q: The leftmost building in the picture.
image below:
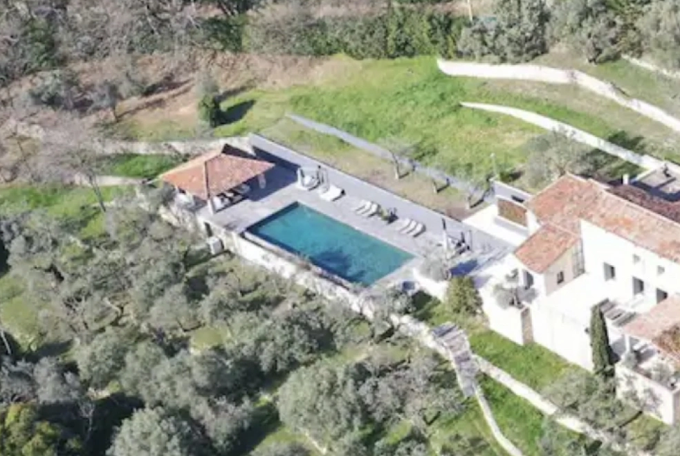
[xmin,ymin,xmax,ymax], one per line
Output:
[162,142,276,224]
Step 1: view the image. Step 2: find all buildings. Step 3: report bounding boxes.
[162,142,276,224]
[515,171,680,370]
